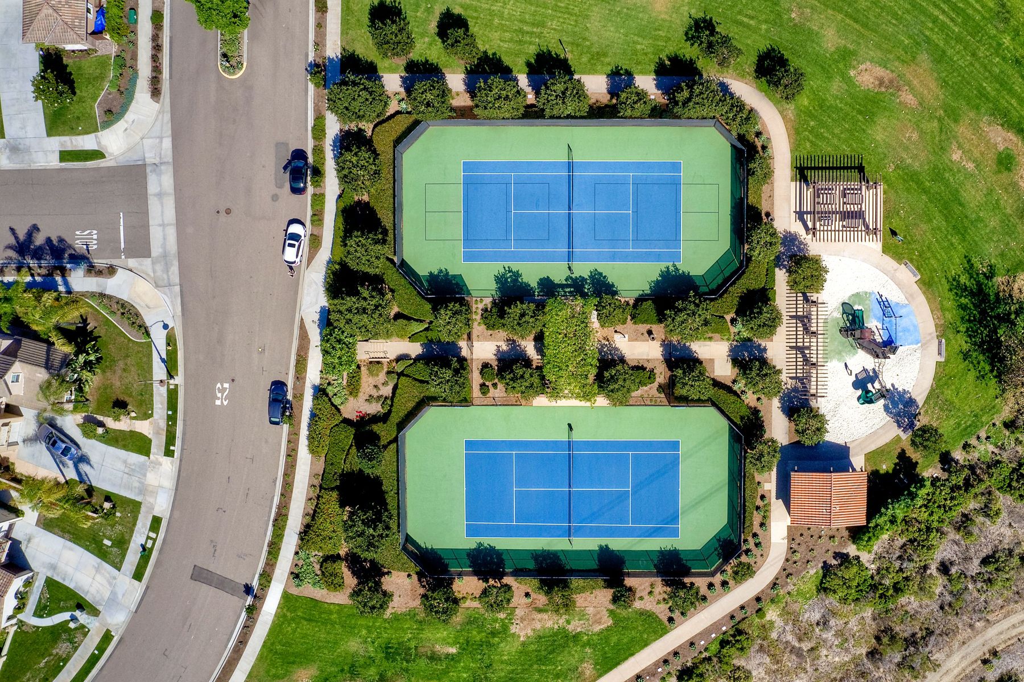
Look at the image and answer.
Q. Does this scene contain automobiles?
Yes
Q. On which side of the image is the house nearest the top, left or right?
left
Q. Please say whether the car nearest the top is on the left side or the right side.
left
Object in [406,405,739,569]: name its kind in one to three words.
tennis court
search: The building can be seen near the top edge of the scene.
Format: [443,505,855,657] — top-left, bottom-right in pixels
[22,0,98,49]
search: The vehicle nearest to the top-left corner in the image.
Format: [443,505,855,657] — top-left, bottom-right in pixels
[281,149,309,194]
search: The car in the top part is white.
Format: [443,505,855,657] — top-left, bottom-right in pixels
[282,219,307,264]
